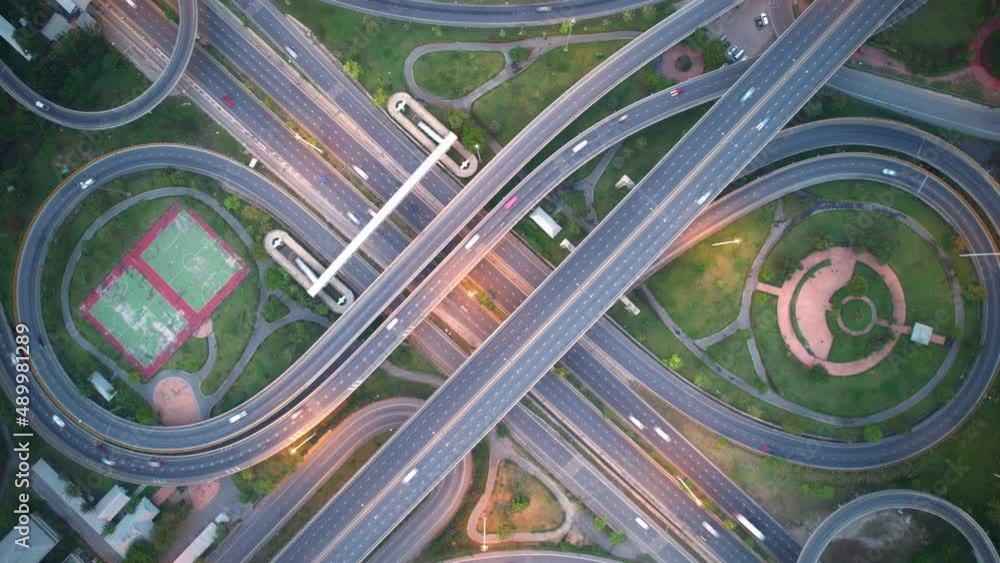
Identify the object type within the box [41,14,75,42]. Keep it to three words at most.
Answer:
house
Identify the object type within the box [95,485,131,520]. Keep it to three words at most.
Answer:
house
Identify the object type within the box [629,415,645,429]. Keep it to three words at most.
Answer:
vehicle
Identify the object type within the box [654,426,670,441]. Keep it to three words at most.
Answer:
vehicle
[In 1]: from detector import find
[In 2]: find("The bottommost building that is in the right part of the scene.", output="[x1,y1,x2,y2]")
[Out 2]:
[911,323,939,346]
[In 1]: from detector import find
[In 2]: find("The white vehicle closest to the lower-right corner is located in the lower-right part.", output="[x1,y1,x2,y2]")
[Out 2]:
[735,512,769,543]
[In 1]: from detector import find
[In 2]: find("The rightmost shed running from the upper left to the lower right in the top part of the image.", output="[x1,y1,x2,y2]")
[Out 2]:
[531,207,561,237]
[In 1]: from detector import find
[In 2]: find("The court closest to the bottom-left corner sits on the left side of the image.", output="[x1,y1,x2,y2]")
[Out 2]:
[79,259,197,378]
